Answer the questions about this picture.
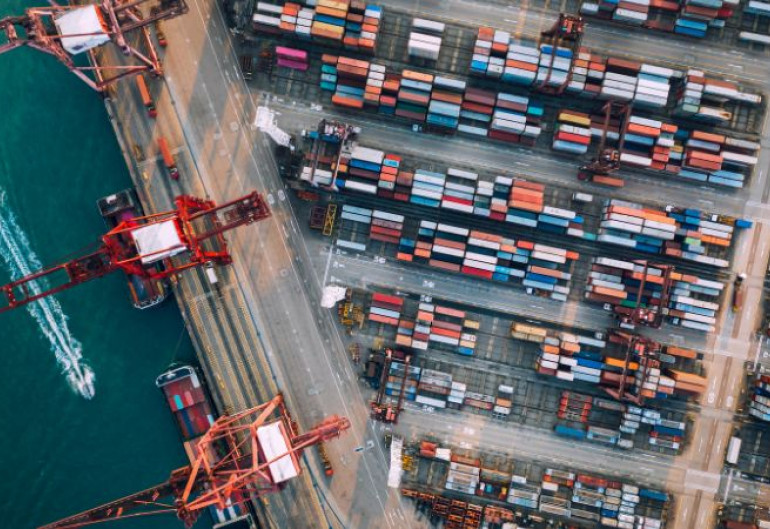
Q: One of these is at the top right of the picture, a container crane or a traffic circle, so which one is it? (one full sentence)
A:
Visible at the top right of the picture is a container crane.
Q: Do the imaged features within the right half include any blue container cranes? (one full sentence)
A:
No, within the right half there is no blue container crane.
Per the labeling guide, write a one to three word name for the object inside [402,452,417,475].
work vehicle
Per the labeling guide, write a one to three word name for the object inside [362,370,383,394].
work vehicle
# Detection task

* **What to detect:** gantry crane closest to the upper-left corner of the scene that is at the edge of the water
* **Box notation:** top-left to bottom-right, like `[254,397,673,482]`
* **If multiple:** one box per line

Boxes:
[0,0,193,103]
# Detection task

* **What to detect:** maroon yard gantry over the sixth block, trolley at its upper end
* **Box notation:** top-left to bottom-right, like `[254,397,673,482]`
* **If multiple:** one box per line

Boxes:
[587,324,656,406]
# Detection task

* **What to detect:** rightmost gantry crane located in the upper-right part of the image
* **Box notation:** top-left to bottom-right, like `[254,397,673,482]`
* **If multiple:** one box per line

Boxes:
[570,100,637,185]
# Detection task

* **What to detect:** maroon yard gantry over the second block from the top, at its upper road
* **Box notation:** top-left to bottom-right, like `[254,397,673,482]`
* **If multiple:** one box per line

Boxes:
[527,18,584,110]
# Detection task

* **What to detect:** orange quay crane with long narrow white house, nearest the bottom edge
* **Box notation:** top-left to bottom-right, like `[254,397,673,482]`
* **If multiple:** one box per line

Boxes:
[40,385,354,529]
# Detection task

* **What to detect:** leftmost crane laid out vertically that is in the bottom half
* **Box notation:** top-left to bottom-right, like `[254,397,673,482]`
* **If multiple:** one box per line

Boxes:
[371,338,414,421]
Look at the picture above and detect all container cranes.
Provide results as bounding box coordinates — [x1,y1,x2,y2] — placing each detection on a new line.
[0,189,274,319]
[587,324,656,406]
[605,258,675,331]
[309,117,356,198]
[371,338,414,421]
[0,0,193,103]
[527,18,584,110]
[40,385,354,529]
[570,100,637,185]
